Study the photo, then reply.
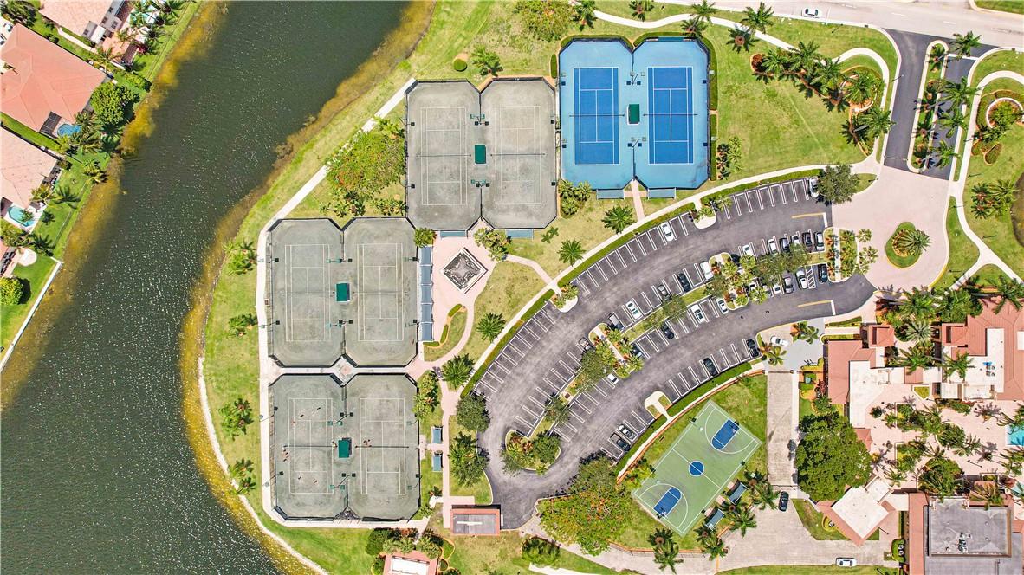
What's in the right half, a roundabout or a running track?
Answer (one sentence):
The feature located in the right half is a roundabout.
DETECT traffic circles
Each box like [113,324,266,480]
[832,165,948,295]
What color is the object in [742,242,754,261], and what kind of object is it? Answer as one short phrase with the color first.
white vehicle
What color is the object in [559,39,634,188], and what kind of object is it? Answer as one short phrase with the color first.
blue tennis court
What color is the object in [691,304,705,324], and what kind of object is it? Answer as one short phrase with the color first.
white car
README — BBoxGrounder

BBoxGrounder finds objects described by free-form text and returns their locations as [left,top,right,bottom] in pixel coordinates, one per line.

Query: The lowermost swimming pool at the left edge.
[3,201,47,232]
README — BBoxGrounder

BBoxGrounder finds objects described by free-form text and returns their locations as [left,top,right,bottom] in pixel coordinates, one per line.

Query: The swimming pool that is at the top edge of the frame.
[123,0,168,43]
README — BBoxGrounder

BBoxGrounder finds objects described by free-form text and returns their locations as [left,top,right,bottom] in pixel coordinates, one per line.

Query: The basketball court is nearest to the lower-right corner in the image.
[631,400,763,536]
